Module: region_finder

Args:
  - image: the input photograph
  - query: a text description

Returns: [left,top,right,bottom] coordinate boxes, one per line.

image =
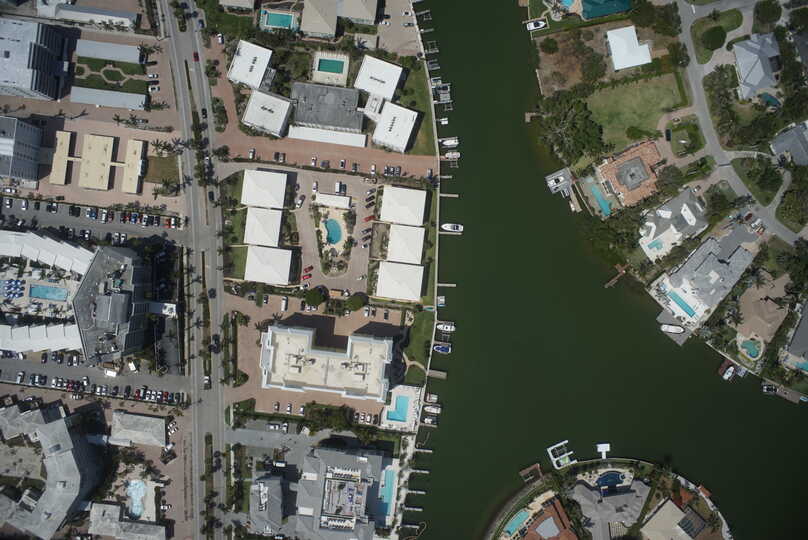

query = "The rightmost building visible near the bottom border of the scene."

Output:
[640,500,693,540]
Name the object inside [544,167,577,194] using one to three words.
pier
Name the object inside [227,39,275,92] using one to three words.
building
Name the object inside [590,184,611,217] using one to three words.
swimming pool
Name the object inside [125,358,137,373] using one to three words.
vehicle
